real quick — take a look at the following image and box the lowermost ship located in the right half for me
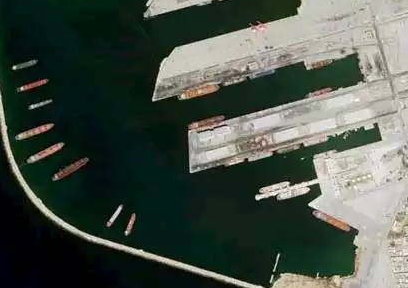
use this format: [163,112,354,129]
[314,210,350,230]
